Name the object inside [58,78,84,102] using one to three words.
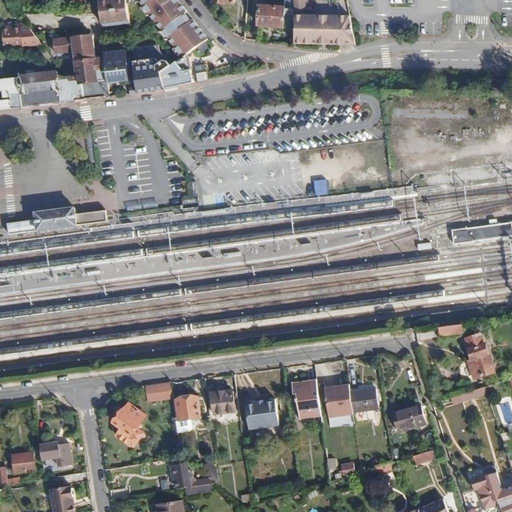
building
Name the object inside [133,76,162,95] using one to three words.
house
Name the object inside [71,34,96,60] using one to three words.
house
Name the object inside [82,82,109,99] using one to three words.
building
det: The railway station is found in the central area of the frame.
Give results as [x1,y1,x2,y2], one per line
[0,184,483,363]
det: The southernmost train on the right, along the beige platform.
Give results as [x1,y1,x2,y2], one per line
[191,290,446,329]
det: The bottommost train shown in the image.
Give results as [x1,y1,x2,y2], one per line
[0,323,188,356]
